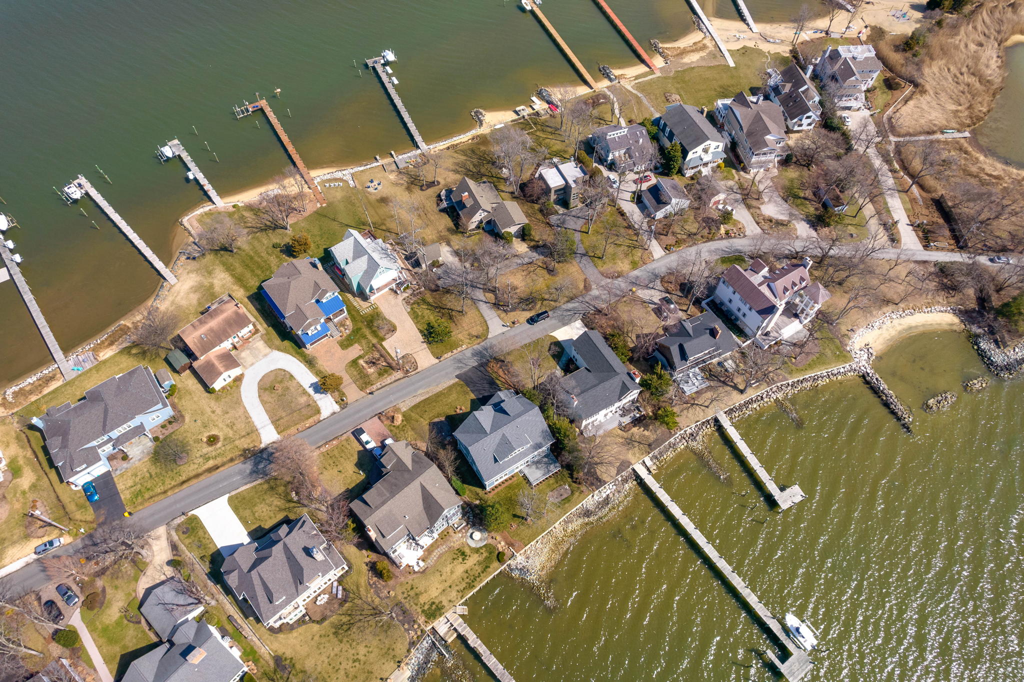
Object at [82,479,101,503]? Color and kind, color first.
blue car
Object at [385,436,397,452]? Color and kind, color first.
white vehicle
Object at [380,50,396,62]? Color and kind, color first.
white boat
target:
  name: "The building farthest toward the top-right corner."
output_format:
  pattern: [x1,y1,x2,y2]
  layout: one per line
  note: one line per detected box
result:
[811,41,882,114]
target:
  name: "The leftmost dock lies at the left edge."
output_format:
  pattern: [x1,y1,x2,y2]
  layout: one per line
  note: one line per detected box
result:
[0,238,73,381]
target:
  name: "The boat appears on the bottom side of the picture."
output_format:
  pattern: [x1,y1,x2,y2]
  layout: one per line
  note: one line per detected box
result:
[788,616,819,651]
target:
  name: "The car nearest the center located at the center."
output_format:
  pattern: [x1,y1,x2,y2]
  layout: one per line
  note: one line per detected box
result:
[528,309,551,326]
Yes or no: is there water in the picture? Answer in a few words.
Yes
